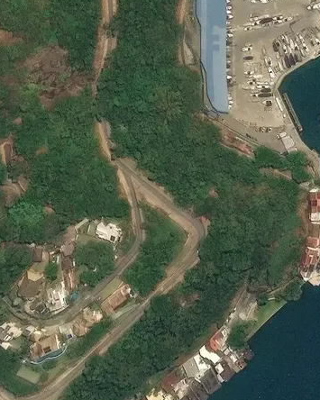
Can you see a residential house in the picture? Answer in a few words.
Yes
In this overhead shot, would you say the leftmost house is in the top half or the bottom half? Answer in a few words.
bottom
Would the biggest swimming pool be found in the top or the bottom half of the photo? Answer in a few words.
bottom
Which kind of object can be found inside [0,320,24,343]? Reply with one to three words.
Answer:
house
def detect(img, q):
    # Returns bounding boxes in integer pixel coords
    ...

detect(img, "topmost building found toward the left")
[96,218,126,244]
